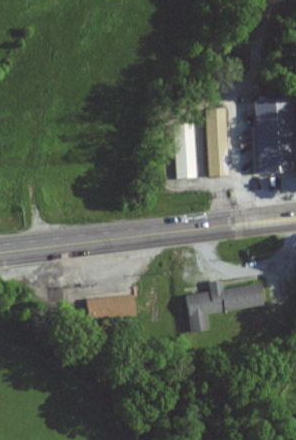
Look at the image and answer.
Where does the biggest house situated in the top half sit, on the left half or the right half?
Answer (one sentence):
The biggest house situated in the top half is on the right side of the image.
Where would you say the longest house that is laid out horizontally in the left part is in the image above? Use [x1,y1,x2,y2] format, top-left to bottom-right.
[86,296,136,320]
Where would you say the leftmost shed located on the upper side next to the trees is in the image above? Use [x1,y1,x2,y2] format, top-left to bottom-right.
[175,122,198,180]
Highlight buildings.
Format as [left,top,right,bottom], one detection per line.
[186,280,262,332]
[175,122,198,180]
[86,296,136,320]
[206,108,228,178]
[253,102,296,174]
